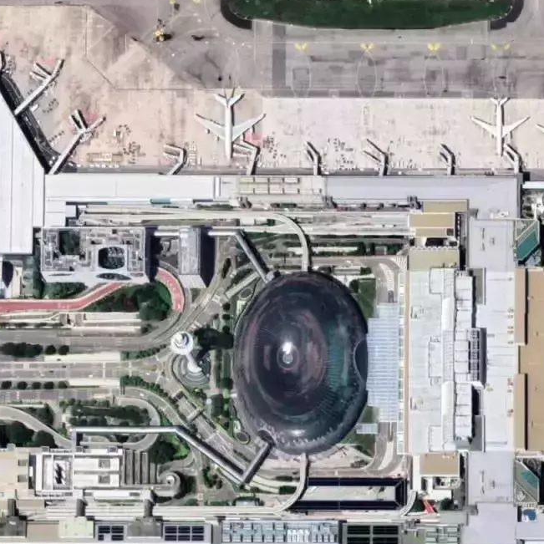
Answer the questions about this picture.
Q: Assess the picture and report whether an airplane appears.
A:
Yes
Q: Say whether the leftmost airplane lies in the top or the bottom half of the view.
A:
top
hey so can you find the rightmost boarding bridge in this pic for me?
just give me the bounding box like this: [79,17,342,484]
[502,143,520,176]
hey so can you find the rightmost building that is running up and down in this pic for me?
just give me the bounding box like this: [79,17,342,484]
[398,201,544,511]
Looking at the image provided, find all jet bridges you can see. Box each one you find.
[362,139,389,176]
[232,140,258,176]
[49,108,107,175]
[438,142,453,176]
[15,59,66,116]
[305,141,321,176]
[502,143,520,176]
[162,145,185,175]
